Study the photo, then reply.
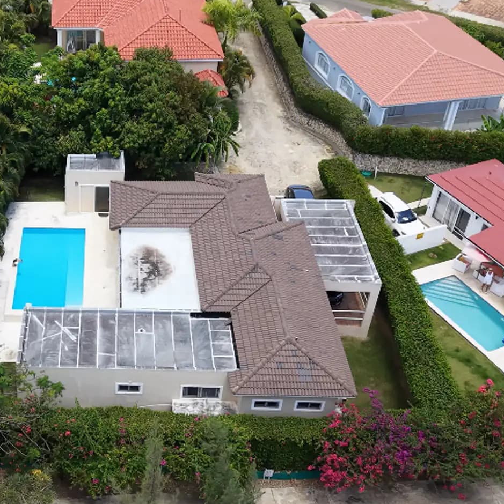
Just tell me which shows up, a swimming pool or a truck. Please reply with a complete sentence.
Visible in the photo is a swimming pool.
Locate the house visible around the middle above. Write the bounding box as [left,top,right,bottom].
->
[18,152,381,425]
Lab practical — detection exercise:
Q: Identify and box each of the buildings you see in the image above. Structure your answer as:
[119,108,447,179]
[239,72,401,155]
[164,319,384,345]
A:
[426,159,504,275]
[51,0,224,73]
[302,7,504,130]
[18,152,381,425]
